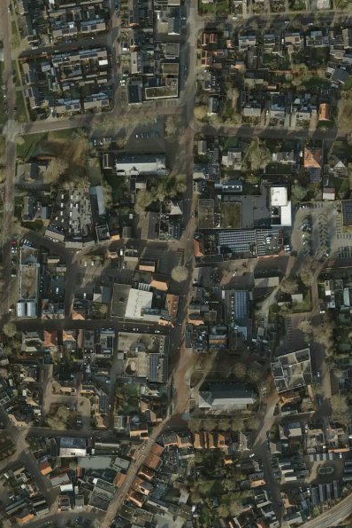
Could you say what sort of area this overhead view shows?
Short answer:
residential area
